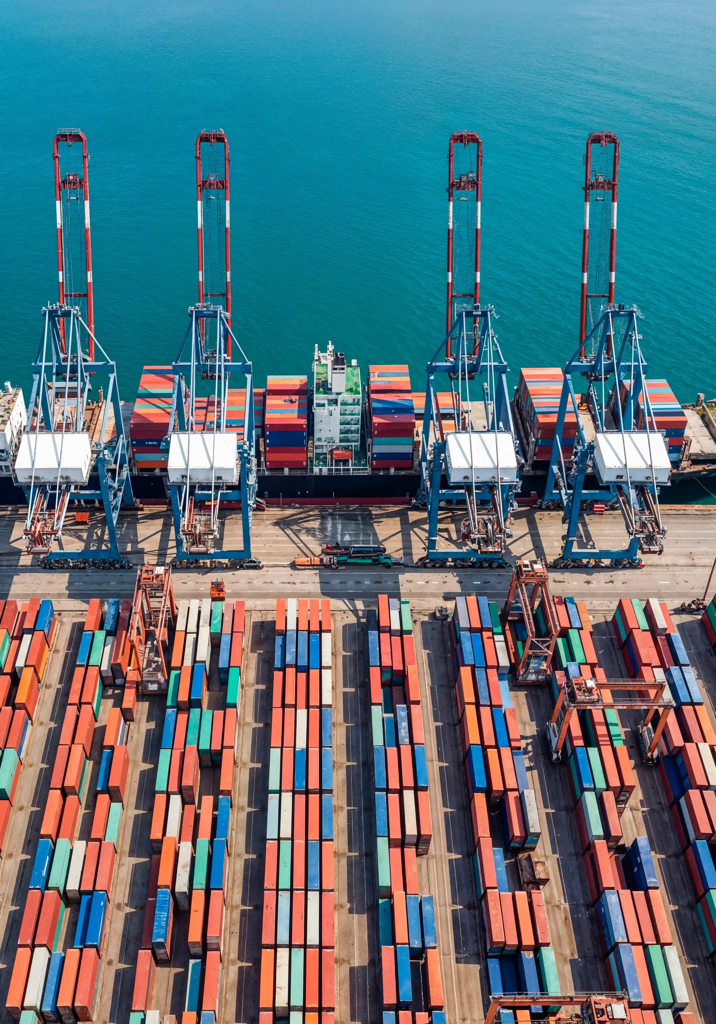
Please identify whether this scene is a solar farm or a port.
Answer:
port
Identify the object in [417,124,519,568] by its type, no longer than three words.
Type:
container crane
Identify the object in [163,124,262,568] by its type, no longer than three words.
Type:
container crane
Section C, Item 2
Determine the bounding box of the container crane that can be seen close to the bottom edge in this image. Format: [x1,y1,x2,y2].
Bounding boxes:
[486,987,635,1024]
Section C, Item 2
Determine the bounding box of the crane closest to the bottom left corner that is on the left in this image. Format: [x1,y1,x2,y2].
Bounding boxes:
[127,568,181,696]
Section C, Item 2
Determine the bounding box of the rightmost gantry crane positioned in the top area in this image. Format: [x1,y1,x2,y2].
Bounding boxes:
[548,124,671,568]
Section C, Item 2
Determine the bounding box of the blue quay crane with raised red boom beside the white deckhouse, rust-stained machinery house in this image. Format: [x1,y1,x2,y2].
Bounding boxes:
[14,124,133,568]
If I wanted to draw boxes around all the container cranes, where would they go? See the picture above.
[546,670,673,764]
[163,124,262,568]
[14,124,133,568]
[417,124,519,568]
[548,124,671,568]
[127,568,181,696]
[500,560,559,687]
[486,987,635,1024]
